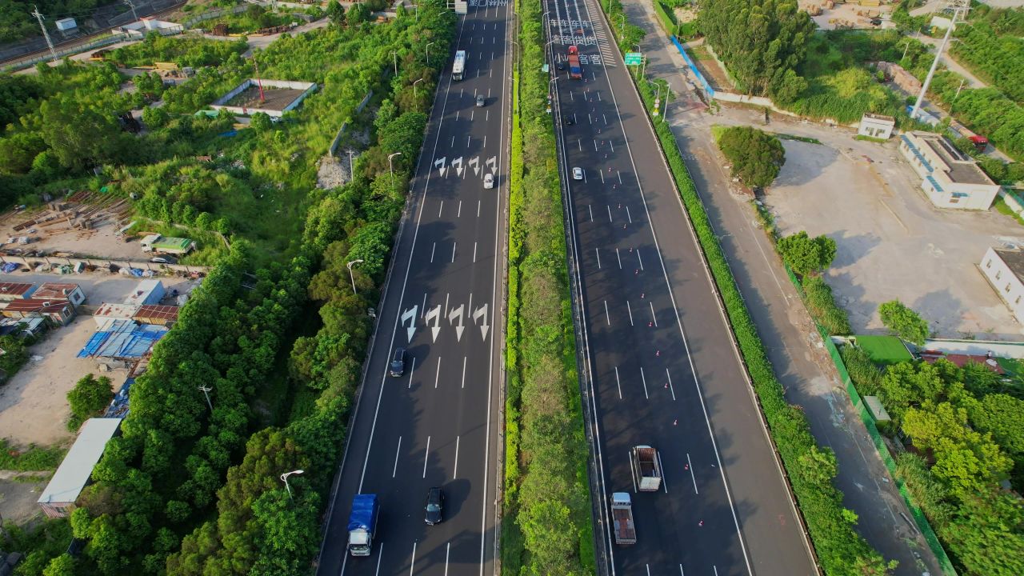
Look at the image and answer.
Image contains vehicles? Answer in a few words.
Yes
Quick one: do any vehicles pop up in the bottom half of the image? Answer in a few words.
Yes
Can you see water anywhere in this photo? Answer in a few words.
No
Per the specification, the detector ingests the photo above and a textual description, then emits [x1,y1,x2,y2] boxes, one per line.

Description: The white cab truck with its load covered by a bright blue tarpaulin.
[350,489,382,552]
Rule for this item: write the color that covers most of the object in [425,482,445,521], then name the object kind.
black car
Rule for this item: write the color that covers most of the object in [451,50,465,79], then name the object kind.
white vehicle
